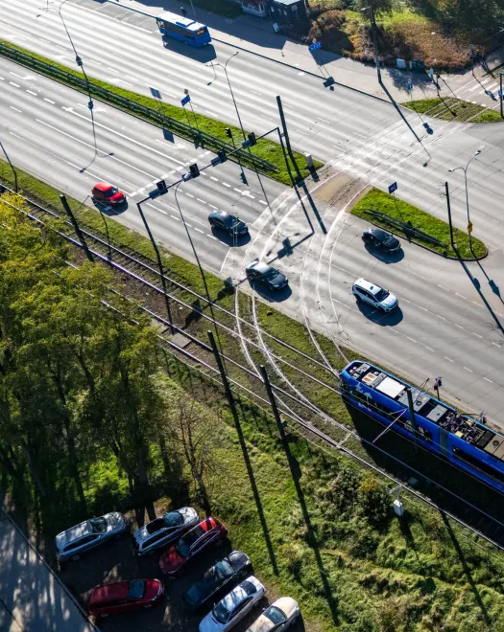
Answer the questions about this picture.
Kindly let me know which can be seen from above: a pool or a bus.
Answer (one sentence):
The image shows a bus.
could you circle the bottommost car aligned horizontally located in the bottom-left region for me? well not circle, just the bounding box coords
[92,578,162,620]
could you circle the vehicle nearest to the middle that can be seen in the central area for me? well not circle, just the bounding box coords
[246,263,289,293]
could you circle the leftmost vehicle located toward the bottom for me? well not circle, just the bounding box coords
[57,517,126,562]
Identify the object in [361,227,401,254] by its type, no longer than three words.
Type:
car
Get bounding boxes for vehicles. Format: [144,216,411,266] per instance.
[91,183,125,207]
[201,577,265,632]
[164,519,227,575]
[352,278,398,312]
[361,227,401,254]
[130,509,202,556]
[246,263,289,293]
[247,601,300,632]
[92,578,162,620]
[153,8,212,46]
[182,552,254,611]
[209,212,248,238]
[57,517,126,562]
